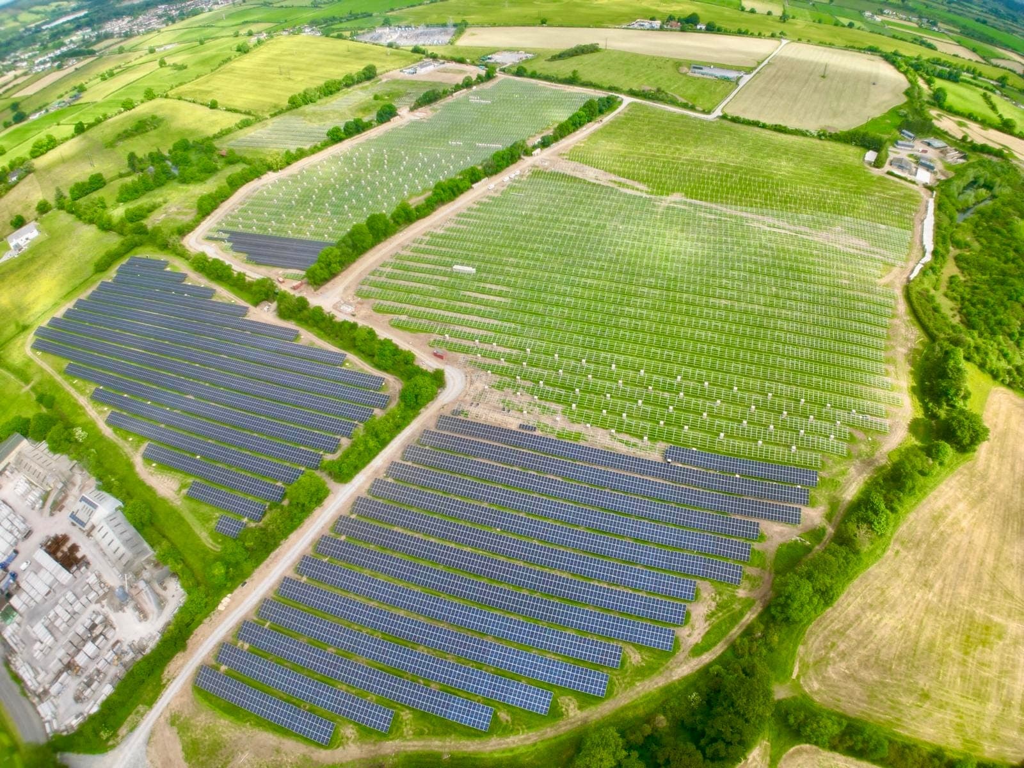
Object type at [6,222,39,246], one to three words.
house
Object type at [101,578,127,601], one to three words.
silo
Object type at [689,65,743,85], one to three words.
shed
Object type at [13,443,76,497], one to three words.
barn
